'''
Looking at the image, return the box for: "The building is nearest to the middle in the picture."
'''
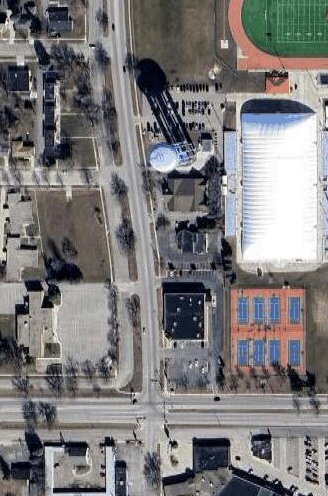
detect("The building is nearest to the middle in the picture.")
[177,231,209,253]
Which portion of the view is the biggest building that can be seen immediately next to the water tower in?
center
